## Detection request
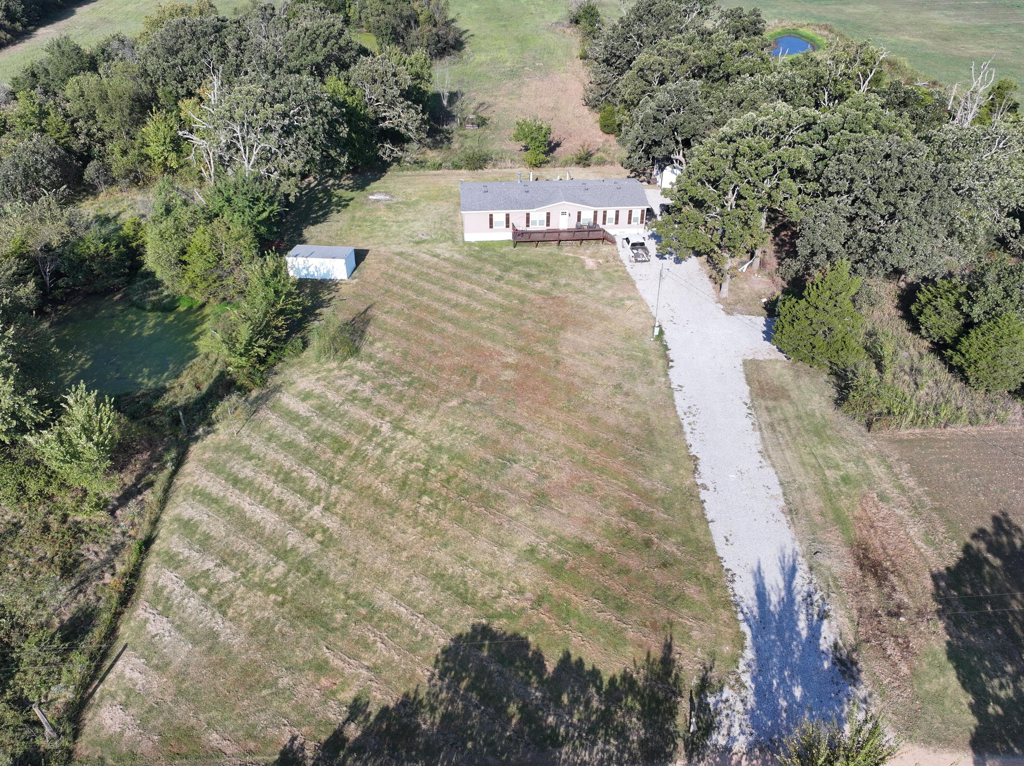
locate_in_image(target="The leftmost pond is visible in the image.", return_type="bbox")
[27,290,216,405]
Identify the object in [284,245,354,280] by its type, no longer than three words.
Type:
shed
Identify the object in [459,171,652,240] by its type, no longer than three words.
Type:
house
